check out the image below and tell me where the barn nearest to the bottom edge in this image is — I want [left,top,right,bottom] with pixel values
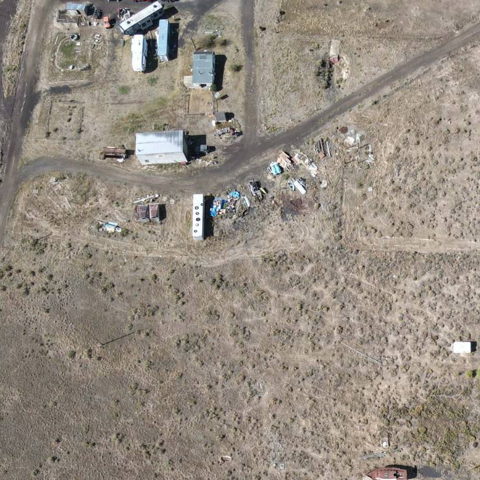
[136,127,188,165]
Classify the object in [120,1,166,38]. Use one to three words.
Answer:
camper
